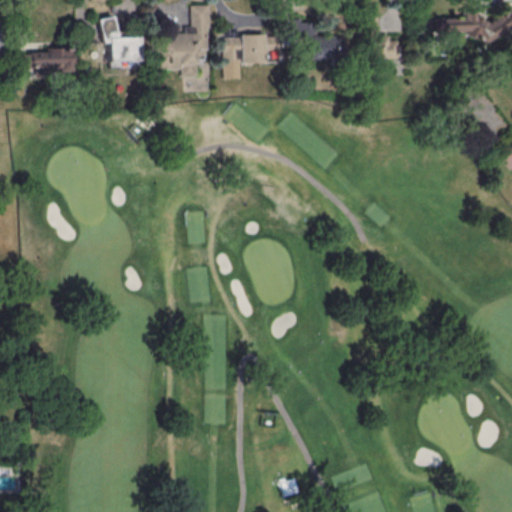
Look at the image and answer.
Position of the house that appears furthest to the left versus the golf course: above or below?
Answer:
above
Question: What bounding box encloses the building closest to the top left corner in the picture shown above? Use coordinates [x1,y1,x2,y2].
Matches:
[30,48,78,74]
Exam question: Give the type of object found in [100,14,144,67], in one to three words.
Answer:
house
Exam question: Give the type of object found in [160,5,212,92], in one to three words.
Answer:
house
